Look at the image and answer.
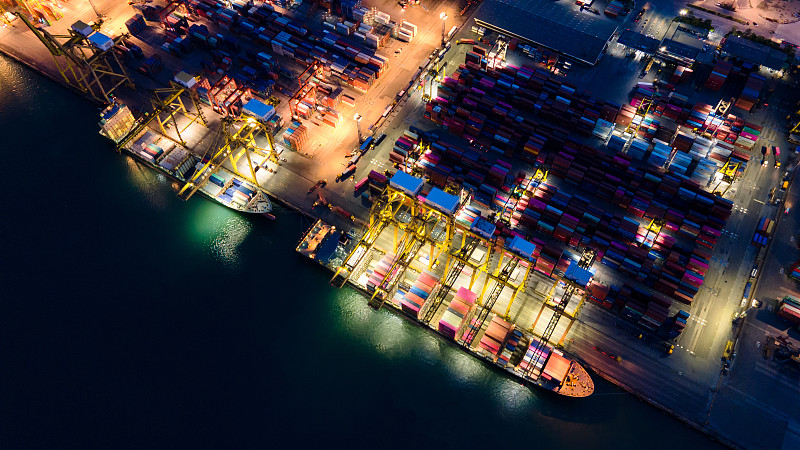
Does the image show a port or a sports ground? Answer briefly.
port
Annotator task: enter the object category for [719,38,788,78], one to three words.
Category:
shed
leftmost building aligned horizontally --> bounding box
[473,0,640,73]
